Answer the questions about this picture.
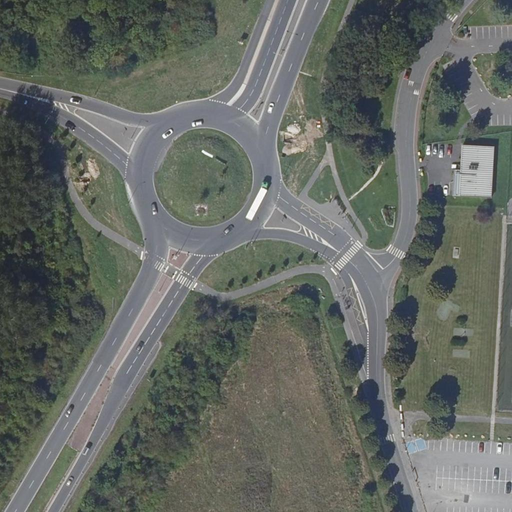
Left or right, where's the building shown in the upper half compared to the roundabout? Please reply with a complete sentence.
The building shown in the upper half is to the right of the roundabout.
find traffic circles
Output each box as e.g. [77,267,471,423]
[132,105,276,249]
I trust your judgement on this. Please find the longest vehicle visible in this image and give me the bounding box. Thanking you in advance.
[248,178,270,218]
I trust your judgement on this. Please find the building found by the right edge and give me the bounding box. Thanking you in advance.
[454,144,495,196]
